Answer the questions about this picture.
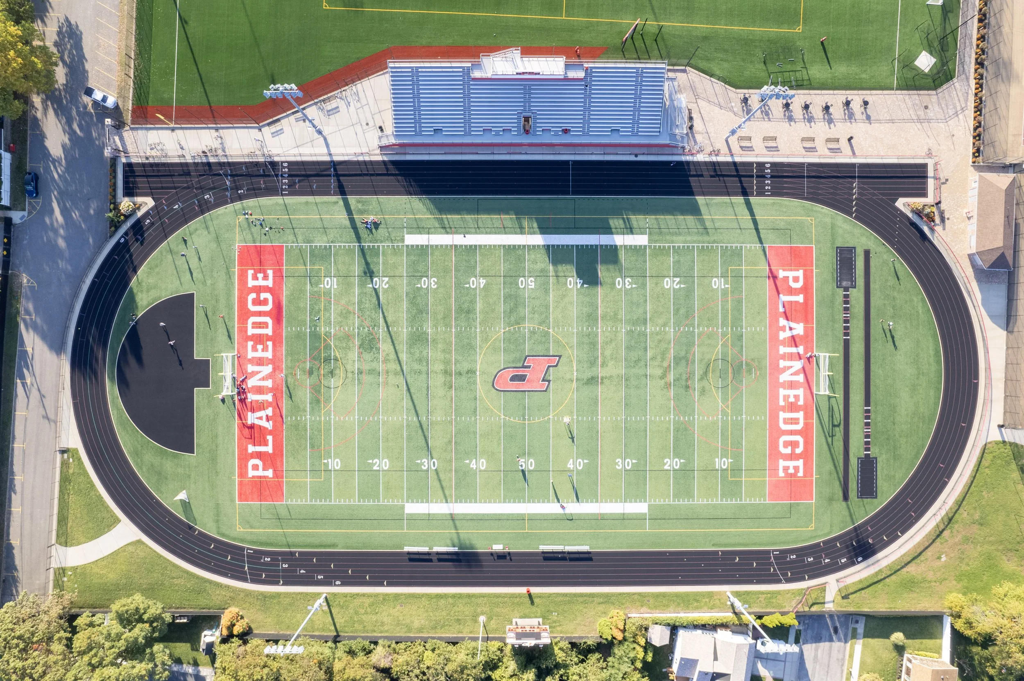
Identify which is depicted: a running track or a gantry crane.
running track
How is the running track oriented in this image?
horizontally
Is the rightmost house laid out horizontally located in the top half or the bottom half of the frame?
bottom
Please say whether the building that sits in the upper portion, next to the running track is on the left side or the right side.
right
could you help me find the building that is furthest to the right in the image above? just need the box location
[966,173,1016,270]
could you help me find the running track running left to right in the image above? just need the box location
[71,160,979,587]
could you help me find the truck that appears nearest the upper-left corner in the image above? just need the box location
[80,84,113,108]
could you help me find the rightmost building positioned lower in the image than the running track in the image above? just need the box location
[898,651,958,681]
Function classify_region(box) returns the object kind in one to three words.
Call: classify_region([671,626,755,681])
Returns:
house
